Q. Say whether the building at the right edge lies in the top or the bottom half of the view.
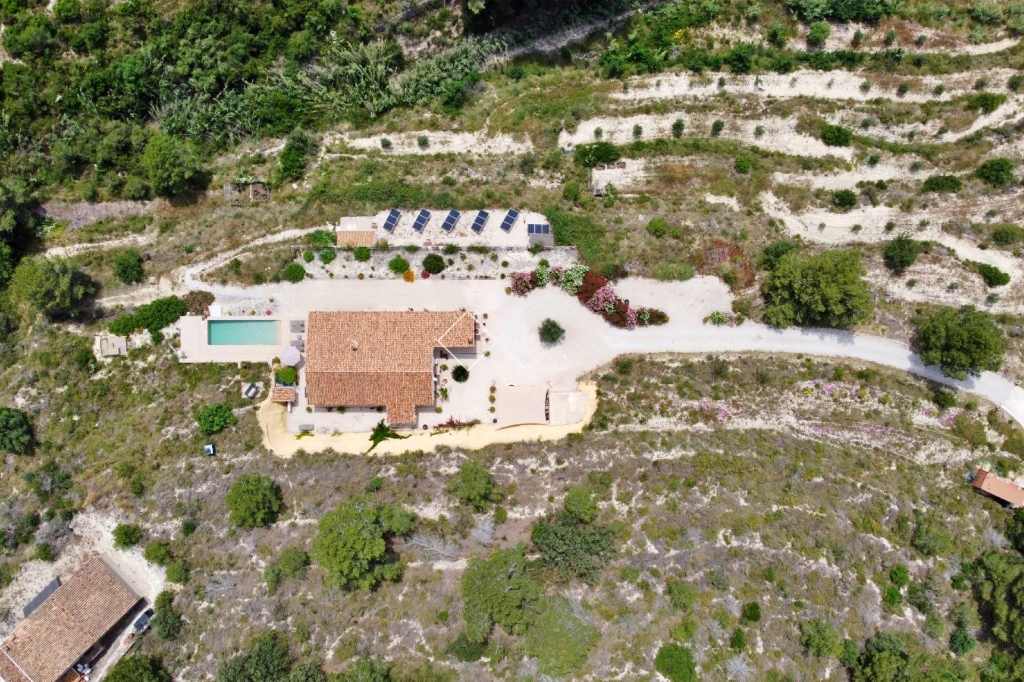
bottom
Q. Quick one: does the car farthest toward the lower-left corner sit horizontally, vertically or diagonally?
diagonally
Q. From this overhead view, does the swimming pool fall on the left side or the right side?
left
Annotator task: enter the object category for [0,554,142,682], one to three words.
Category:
house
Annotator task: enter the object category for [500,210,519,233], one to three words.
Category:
solar array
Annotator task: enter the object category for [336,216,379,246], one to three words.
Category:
shed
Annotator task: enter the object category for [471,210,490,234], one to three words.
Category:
solar array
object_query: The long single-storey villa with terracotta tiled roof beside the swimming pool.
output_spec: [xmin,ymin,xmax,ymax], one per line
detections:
[305,311,476,424]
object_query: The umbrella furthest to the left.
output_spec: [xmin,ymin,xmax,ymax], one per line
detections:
[282,344,301,363]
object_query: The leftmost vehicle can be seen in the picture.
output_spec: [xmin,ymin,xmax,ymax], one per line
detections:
[131,608,158,633]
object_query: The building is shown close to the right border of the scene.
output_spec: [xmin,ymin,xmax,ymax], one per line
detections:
[967,469,1024,508]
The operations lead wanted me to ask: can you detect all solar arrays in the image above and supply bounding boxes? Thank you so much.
[442,210,461,234]
[383,210,402,233]
[500,210,519,233]
[471,210,490,234]
[413,210,432,234]
[528,224,549,234]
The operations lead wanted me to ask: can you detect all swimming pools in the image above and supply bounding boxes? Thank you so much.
[205,317,283,347]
